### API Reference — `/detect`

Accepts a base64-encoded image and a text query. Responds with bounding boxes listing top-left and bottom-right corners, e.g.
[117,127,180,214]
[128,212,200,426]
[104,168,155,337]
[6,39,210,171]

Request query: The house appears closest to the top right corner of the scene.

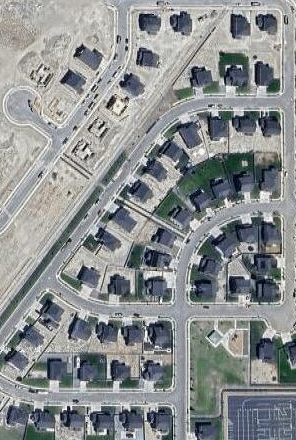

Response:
[257,14,276,33]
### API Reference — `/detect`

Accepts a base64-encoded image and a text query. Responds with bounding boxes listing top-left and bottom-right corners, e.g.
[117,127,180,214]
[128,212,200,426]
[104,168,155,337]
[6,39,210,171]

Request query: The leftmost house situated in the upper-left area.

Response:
[63,67,85,94]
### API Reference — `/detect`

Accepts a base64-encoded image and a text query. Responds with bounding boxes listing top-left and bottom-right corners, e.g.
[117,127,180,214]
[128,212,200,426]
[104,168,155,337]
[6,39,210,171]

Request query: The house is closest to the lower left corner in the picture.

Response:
[7,404,28,427]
